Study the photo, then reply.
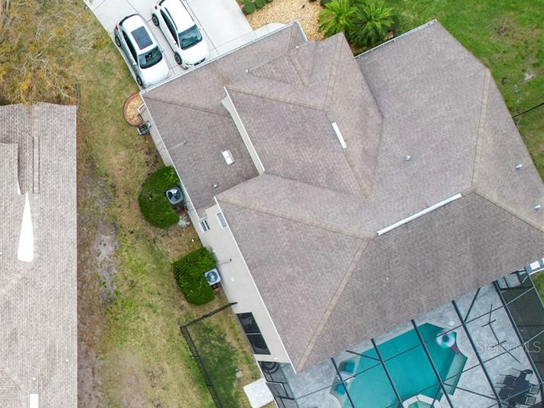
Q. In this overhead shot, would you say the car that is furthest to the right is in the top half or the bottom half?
top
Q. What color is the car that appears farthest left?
white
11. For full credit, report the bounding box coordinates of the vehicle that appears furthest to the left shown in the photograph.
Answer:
[115,11,173,91]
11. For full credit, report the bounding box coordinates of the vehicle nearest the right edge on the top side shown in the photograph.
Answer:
[152,0,213,69]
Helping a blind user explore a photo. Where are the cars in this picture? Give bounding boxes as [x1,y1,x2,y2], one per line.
[115,11,173,91]
[152,0,213,69]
